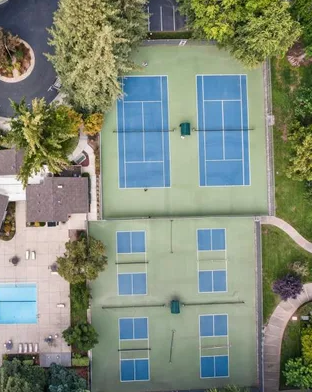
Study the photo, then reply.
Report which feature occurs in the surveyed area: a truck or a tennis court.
tennis court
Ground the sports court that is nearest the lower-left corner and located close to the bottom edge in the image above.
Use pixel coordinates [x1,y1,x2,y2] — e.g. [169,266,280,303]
[118,317,151,382]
